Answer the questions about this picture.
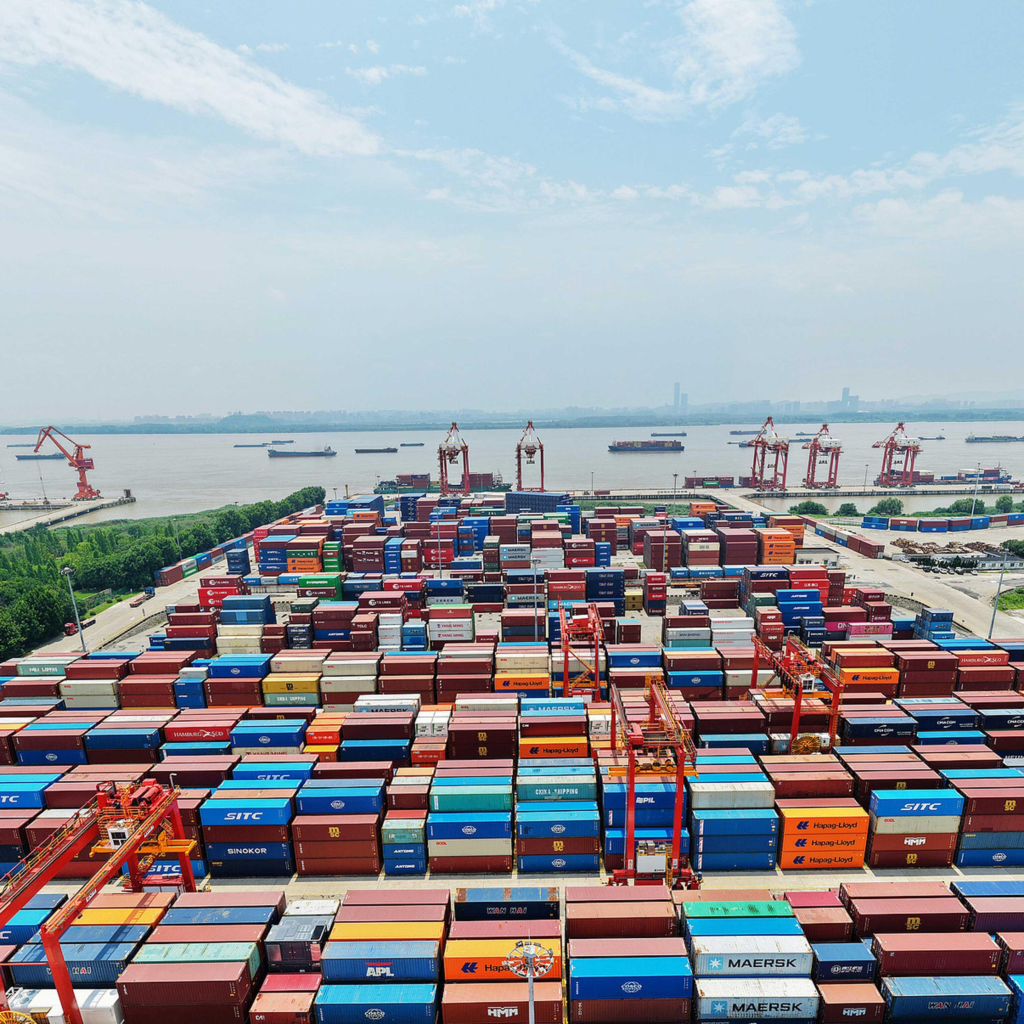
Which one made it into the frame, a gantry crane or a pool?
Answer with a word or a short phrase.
gantry crane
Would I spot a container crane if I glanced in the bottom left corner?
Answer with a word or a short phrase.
Yes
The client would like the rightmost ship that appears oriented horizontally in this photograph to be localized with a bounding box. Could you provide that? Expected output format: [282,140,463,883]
[963,429,1023,442]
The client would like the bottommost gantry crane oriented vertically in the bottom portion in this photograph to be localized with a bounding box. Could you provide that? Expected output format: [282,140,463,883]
[597,672,704,887]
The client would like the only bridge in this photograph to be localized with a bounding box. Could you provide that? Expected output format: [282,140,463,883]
[710,496,780,514]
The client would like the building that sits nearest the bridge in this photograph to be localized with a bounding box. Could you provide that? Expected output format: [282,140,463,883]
[788,552,841,568]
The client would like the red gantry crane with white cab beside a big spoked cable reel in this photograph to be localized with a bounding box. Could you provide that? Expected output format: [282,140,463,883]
[750,633,848,755]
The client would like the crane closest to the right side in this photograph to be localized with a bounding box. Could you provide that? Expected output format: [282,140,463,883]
[874,423,926,488]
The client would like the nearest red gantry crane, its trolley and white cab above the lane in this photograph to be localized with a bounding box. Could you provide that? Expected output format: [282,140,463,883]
[0,768,209,1024]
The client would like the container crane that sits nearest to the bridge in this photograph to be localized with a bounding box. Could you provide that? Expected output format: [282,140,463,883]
[751,418,790,490]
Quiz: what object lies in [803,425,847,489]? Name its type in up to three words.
container crane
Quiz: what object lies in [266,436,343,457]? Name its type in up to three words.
ship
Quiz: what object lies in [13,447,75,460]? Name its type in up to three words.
ship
